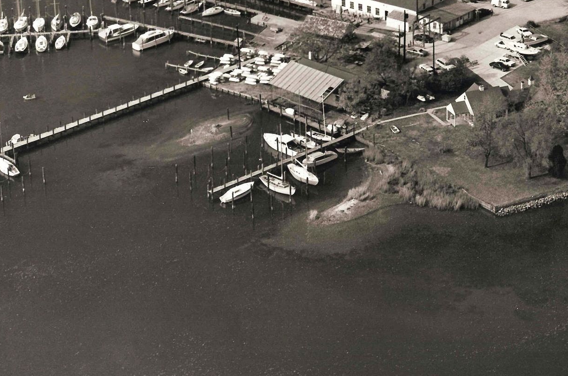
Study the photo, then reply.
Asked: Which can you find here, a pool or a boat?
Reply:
boat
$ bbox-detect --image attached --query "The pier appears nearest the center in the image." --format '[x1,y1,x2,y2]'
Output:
[208,119,385,199]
